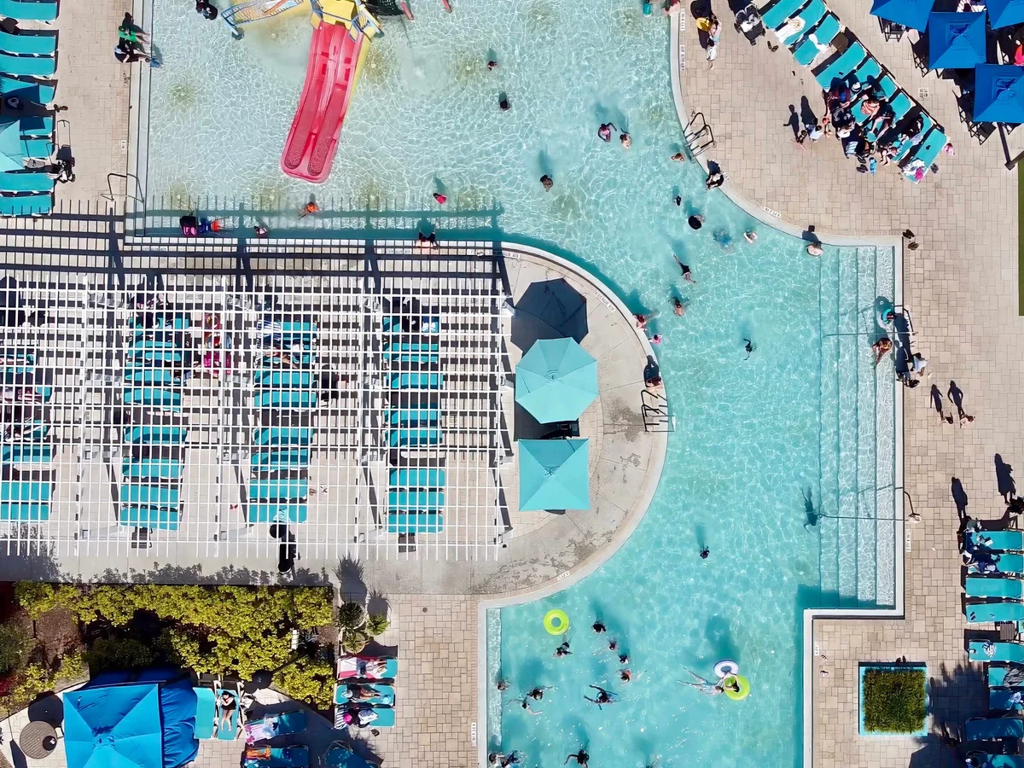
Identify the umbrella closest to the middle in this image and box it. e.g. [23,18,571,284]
[514,338,601,425]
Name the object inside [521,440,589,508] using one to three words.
umbrella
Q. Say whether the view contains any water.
Yes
